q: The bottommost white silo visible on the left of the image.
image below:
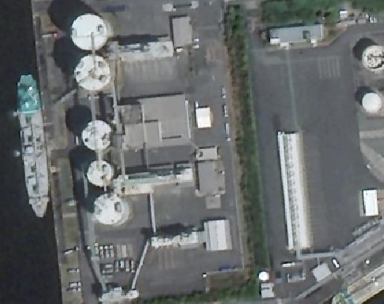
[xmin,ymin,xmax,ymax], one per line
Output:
[93,194,130,226]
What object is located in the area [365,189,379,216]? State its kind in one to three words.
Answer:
building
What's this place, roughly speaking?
industrial area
